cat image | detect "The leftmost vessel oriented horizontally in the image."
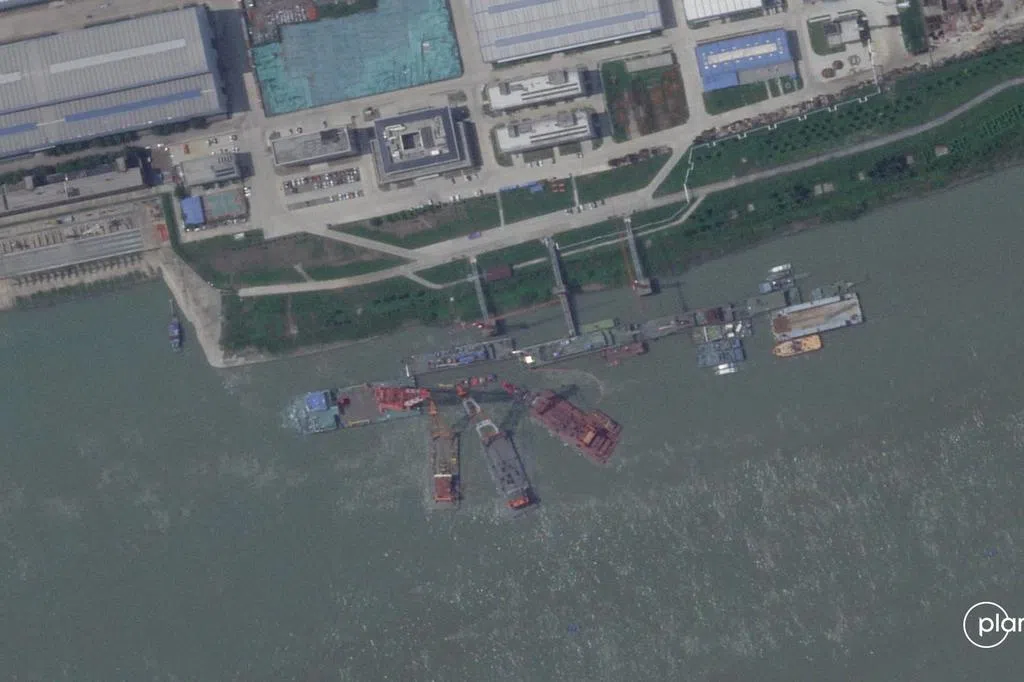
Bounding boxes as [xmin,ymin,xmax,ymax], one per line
[284,361,447,434]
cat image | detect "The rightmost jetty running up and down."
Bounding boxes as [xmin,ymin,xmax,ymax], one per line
[623,218,654,297]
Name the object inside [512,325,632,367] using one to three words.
pier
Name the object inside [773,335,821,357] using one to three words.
boat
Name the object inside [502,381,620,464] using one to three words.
ship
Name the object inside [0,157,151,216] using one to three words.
building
